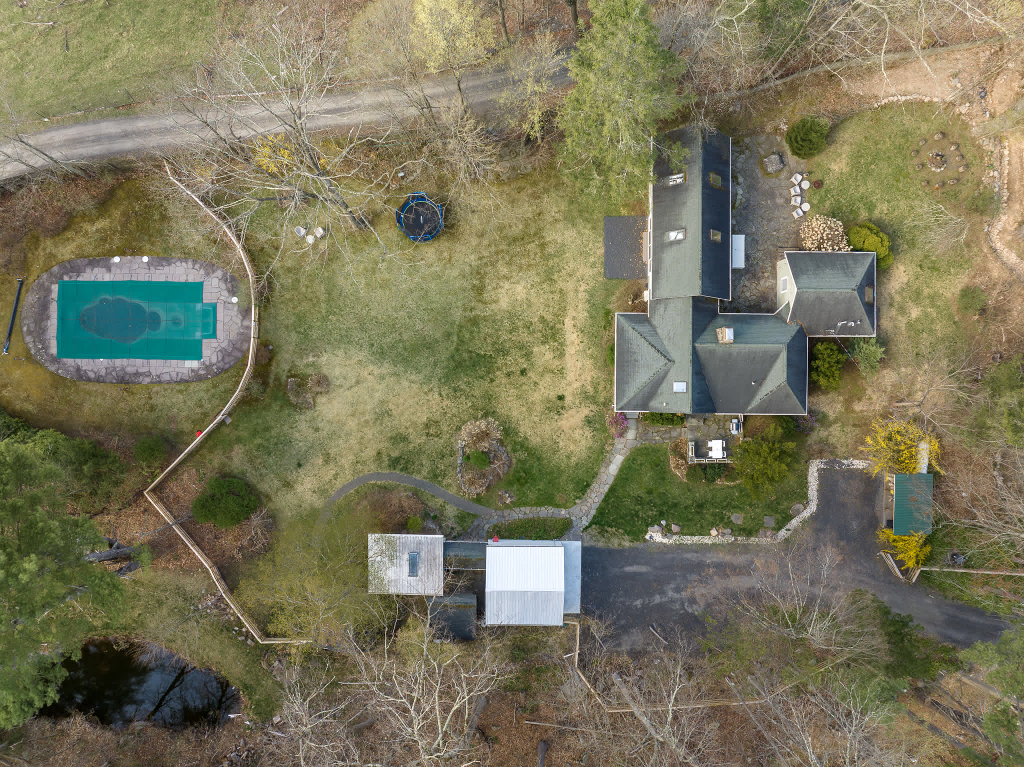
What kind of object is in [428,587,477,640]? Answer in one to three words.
shed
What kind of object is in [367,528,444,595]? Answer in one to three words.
building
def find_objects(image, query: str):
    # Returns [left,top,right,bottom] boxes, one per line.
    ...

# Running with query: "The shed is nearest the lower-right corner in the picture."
[883,472,934,535]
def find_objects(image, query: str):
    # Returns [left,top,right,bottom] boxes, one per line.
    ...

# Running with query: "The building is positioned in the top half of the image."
[611,126,877,421]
